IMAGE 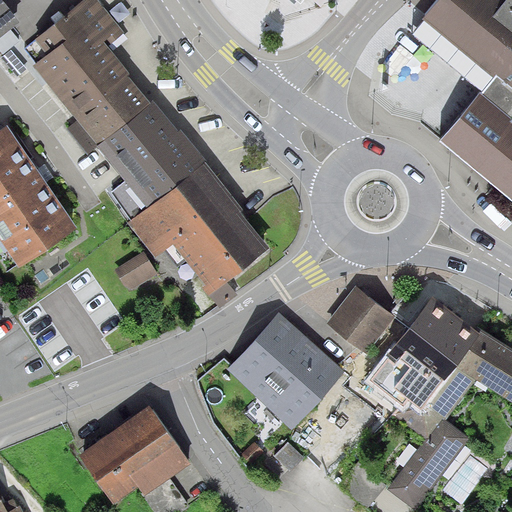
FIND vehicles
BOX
[472,230,494,248]
[240,162,260,172]
[245,192,264,210]
[324,338,344,356]
[0,321,15,338]
[176,97,199,110]
[447,259,467,271]
[157,78,182,89]
[52,348,72,364]
[244,113,262,132]
[404,165,424,182]
[234,48,258,72]
[178,38,194,56]
[24,359,44,374]
[326,402,341,424]
[100,317,118,334]
[72,272,91,290]
[198,118,222,131]
[86,294,106,310]
[36,328,56,344]
[394,28,419,50]
[364,138,384,154]
[22,308,42,324]
[77,152,98,169]
[90,163,110,179]
[79,421,100,437]
[30,316,52,334]
[476,196,512,228]
[284,148,302,167]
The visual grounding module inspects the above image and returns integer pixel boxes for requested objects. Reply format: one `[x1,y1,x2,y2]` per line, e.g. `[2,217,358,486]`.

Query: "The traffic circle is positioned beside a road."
[312,136,442,266]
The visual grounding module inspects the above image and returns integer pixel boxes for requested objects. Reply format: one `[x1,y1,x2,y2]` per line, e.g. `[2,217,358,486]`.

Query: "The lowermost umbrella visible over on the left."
[178,264,194,280]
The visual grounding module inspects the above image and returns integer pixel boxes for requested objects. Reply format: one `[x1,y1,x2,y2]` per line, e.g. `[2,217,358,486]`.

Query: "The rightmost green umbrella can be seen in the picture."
[414,46,434,62]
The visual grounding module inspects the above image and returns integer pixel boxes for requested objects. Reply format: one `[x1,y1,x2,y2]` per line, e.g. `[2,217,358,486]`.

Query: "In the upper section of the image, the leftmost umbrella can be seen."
[110,2,130,22]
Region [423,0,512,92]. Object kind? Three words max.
building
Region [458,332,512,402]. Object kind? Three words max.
house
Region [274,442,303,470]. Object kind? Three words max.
building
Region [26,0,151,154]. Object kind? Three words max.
house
